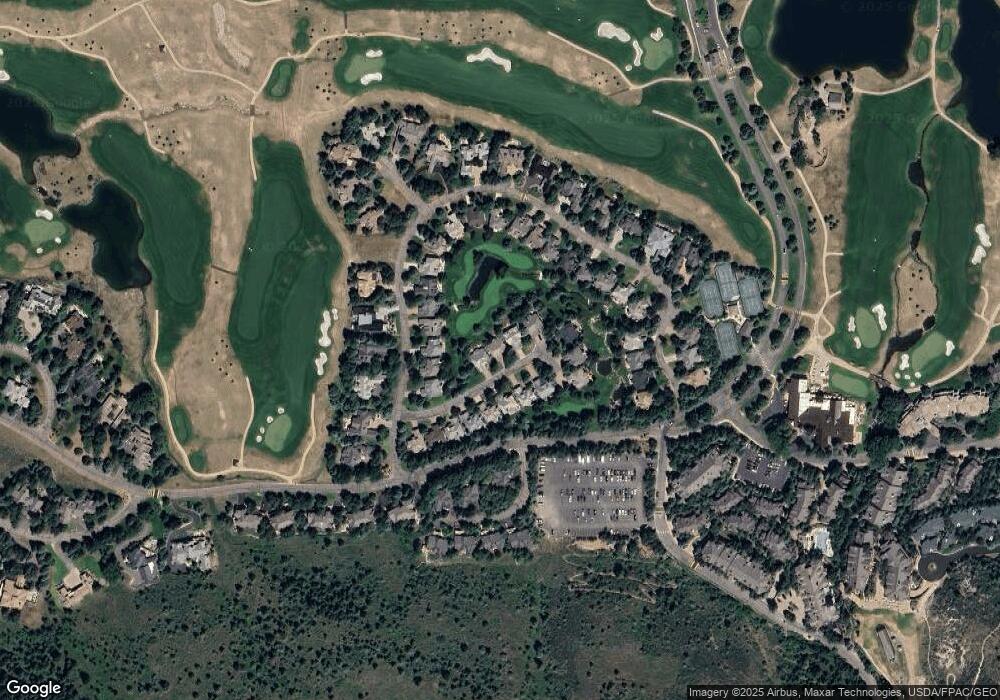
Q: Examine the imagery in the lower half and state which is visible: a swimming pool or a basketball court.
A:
swimming pool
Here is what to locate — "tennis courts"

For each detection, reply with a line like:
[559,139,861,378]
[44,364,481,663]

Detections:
[714,263,740,303]
[714,320,740,361]
[698,277,726,319]
[737,276,765,318]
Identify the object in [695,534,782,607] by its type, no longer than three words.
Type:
building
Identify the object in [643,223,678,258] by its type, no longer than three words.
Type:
house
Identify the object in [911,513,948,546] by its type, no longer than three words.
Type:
building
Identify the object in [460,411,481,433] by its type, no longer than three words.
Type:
house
